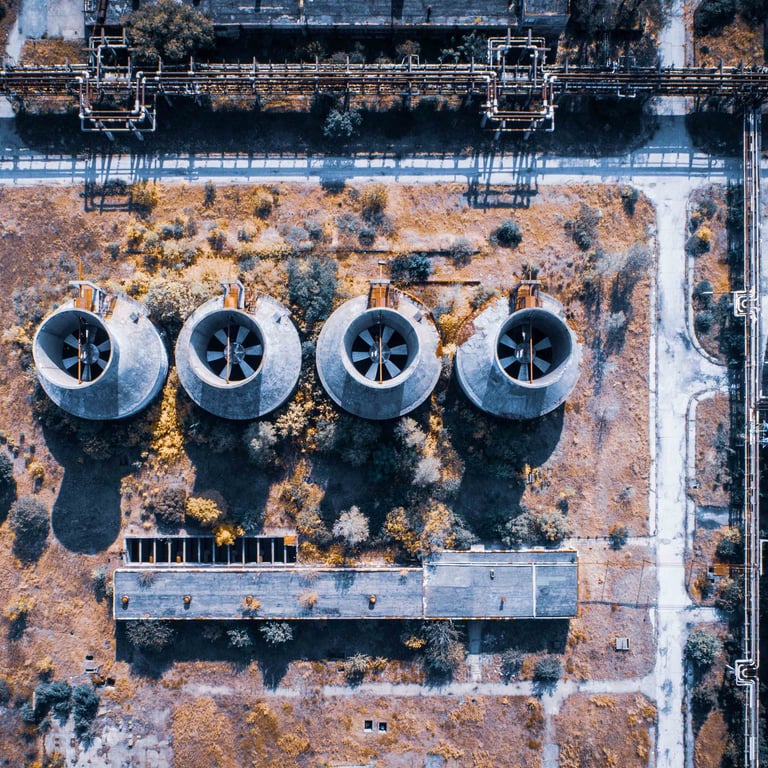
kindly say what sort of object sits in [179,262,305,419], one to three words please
cooling tower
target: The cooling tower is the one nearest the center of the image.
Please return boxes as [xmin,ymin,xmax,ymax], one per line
[319,262,445,419]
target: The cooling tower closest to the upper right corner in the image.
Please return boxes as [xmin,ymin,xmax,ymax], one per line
[456,262,582,419]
